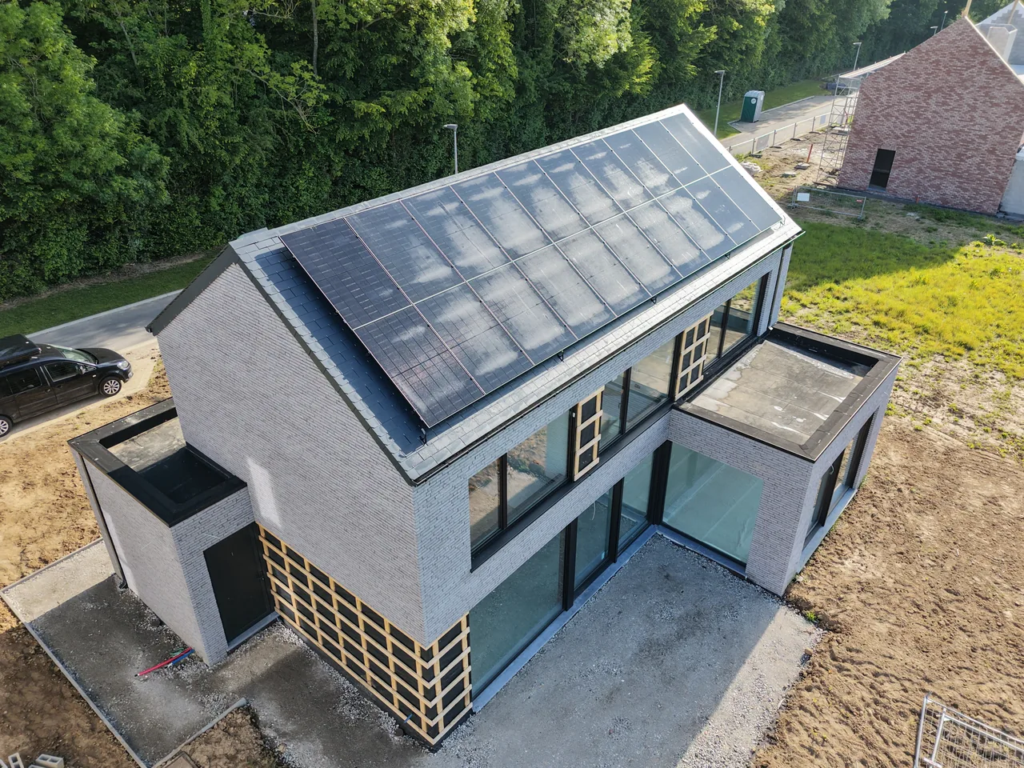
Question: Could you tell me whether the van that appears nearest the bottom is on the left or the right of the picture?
left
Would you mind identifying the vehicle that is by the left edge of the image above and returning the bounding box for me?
[0,339,134,438]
